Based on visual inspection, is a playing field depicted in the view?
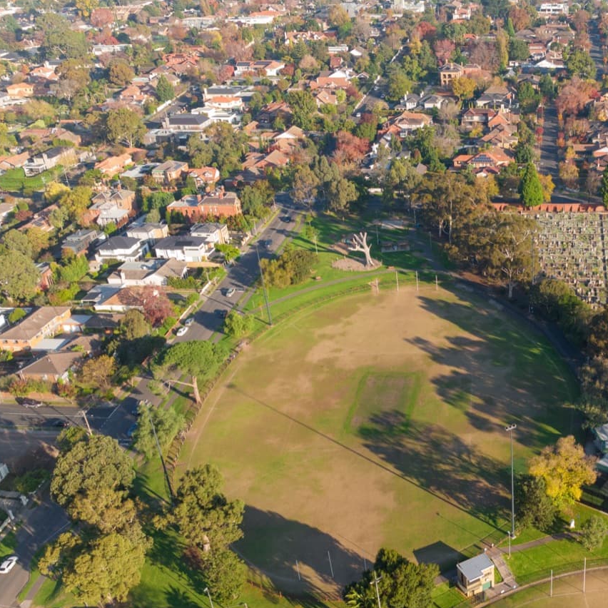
Yes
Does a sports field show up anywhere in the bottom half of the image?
Yes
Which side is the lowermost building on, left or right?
right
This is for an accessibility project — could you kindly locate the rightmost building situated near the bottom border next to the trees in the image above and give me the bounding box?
[447,539,500,596]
